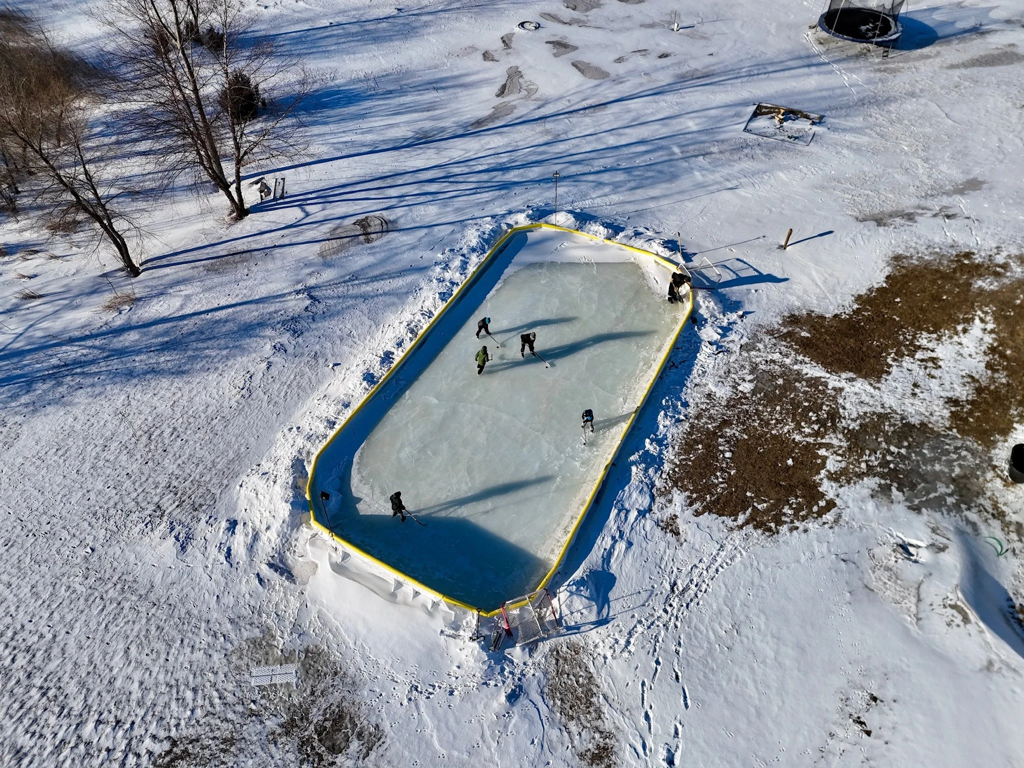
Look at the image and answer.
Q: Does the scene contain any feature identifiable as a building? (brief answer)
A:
No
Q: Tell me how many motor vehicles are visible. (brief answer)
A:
0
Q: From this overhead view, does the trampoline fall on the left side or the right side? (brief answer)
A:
right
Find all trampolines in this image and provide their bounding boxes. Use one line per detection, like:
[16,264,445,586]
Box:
[814,0,910,58]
